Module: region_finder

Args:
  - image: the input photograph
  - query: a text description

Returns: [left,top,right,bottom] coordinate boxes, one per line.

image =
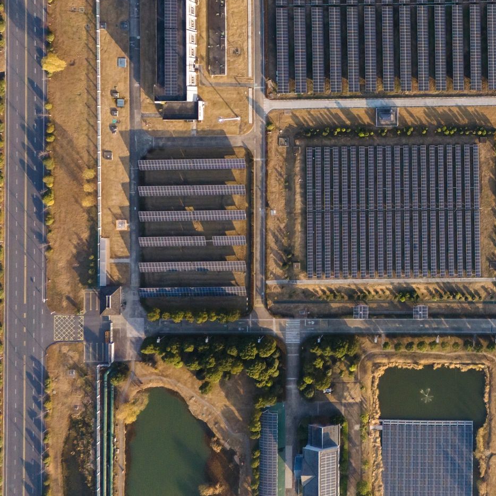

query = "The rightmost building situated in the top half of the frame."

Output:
[209,0,228,76]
